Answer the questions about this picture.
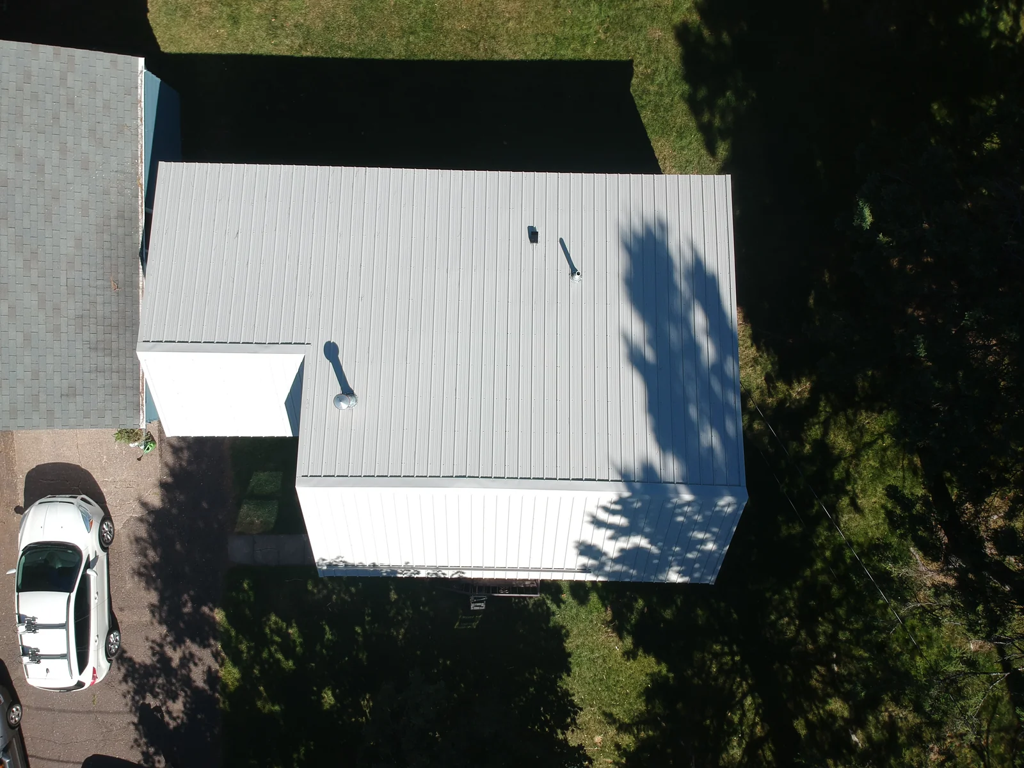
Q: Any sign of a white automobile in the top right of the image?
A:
No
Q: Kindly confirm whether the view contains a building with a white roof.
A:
Yes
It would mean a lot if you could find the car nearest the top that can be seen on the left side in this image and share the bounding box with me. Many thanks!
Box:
[7,499,119,691]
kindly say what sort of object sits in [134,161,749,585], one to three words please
house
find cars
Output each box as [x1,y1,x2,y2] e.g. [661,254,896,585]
[0,687,26,768]
[7,499,119,691]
